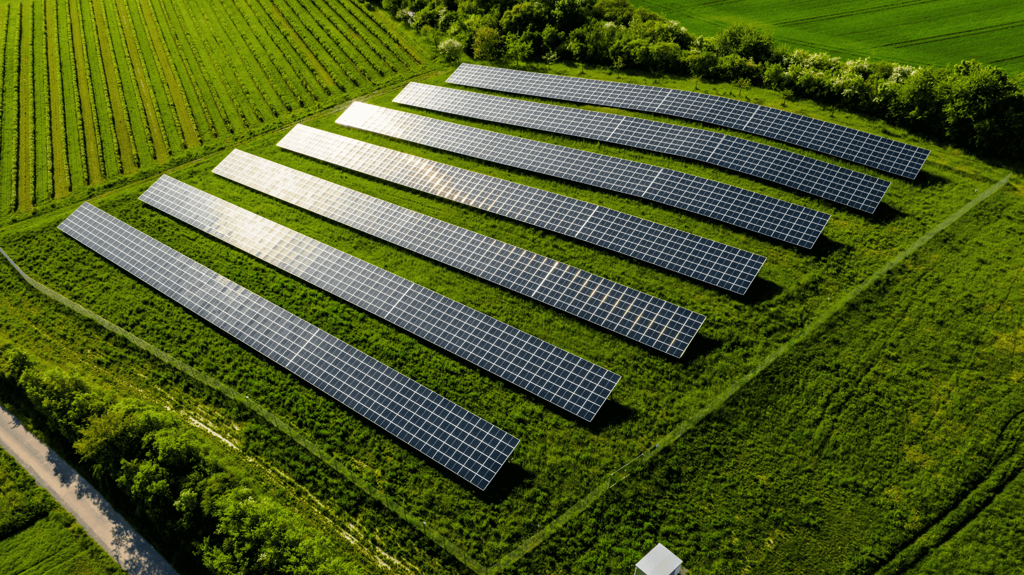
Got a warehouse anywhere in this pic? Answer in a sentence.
No, no warehouse can be seen from above.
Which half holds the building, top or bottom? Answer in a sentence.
The building is in the bottom half of the image.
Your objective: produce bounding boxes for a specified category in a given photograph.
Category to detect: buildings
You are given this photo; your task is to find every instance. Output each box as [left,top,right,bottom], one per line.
[635,544,683,575]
